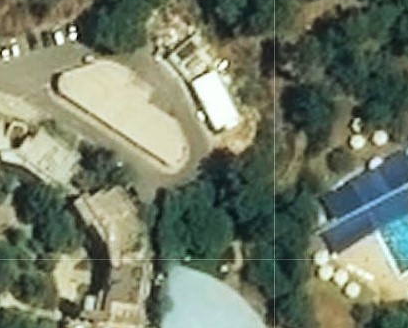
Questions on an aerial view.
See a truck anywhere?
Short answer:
No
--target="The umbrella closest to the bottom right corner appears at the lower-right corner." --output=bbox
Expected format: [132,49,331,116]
[345,283,360,298]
